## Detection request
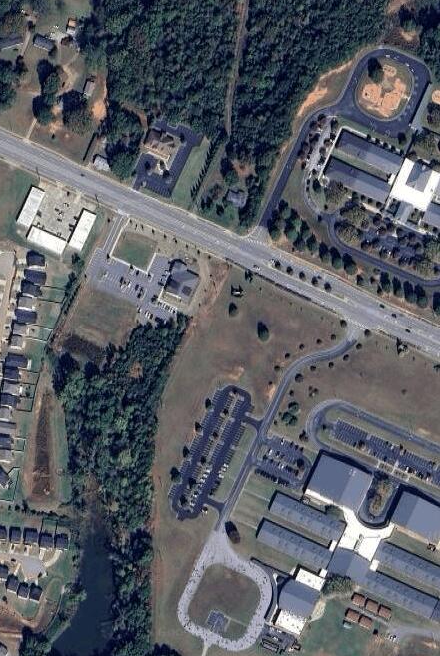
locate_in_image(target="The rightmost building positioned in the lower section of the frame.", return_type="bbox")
[391,493,440,552]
